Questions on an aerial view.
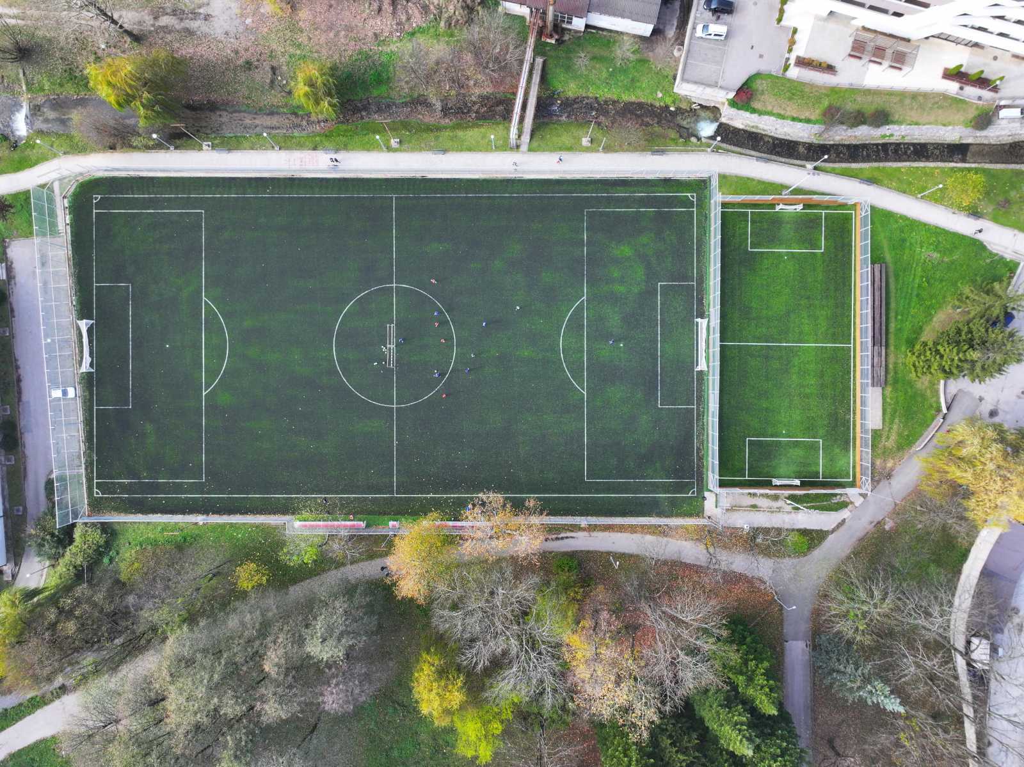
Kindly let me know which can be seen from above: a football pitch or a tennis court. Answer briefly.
football pitch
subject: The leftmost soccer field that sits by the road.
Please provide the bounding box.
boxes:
[69,178,710,527]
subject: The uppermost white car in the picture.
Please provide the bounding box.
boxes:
[697,20,730,38]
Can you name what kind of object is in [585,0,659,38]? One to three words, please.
shed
